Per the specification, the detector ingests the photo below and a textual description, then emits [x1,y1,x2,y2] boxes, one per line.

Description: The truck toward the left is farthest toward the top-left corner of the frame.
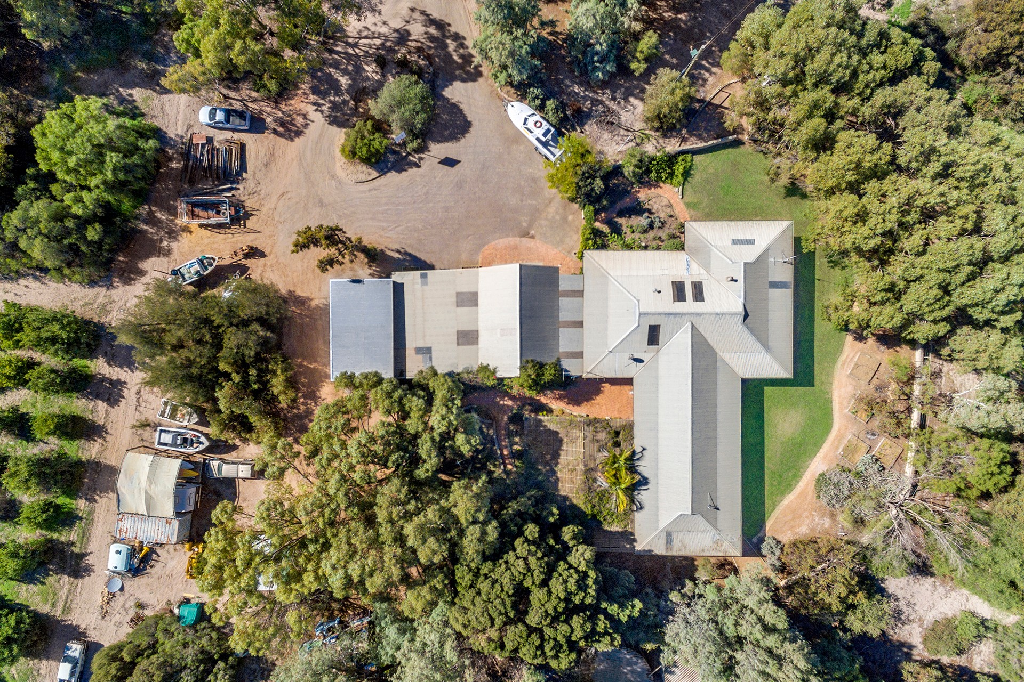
[195,101,250,129]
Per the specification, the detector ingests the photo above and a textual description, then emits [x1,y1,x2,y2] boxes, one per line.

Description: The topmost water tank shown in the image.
[99,544,130,577]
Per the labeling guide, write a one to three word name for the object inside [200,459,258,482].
truck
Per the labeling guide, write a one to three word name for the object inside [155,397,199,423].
boat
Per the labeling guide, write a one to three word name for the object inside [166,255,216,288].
boat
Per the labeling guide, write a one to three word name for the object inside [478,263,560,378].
shed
